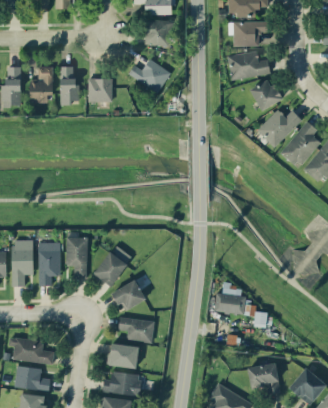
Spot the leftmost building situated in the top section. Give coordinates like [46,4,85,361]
[0,66,20,106]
